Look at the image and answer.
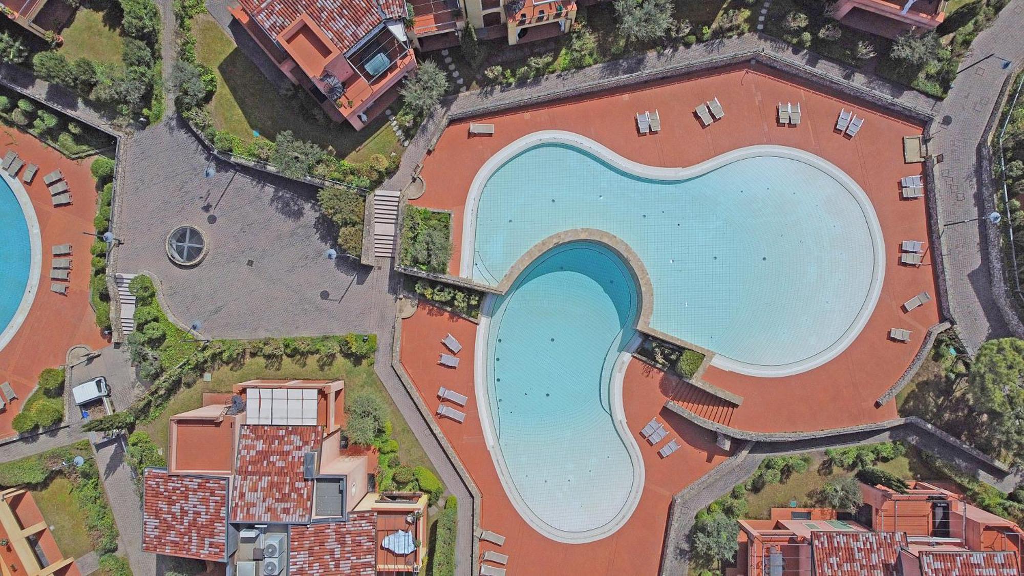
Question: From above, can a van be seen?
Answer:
Yes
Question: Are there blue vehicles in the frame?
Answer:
No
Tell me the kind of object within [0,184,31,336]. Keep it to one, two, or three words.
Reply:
swimming pool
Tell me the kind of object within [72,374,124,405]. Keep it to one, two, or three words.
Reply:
van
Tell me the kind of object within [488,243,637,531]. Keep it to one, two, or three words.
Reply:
swimming pool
